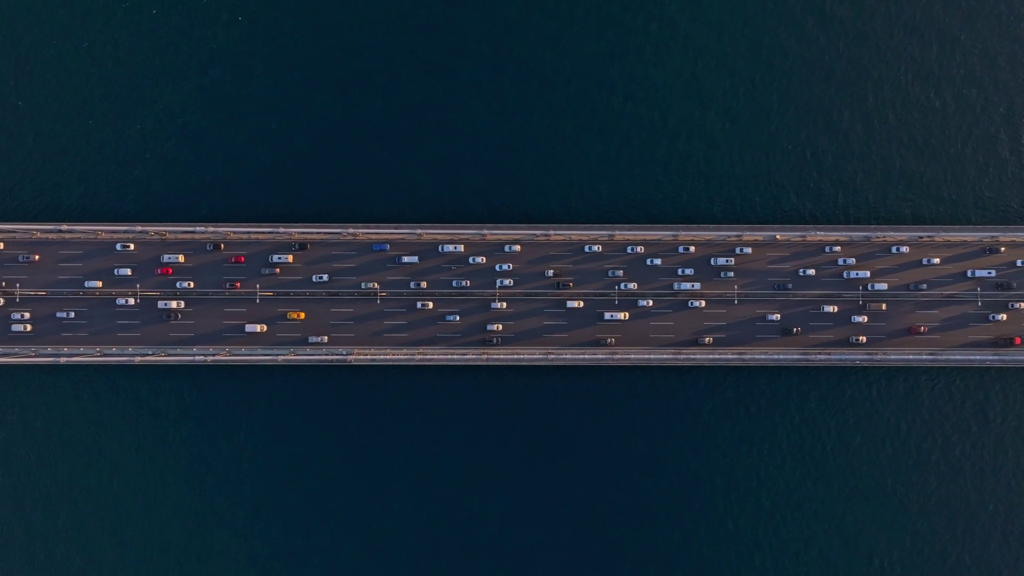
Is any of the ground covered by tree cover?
No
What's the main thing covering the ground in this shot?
water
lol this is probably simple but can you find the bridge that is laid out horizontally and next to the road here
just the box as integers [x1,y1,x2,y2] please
[0,222,1024,366]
